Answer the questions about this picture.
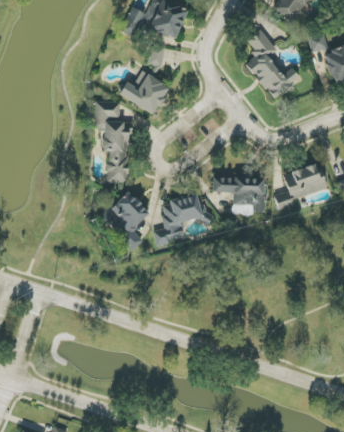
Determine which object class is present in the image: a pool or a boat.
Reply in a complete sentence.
Of the two, only a pool appears.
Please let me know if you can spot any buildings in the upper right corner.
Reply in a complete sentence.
Yes, a building is visible in the upper right corner.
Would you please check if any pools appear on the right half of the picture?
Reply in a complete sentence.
Yes, you'll find a pool on the right half of the picture.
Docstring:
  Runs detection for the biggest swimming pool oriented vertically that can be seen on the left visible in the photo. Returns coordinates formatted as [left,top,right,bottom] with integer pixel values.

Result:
[92,138,106,182]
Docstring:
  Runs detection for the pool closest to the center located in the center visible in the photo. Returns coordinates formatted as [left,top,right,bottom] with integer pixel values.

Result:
[184,224,212,240]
